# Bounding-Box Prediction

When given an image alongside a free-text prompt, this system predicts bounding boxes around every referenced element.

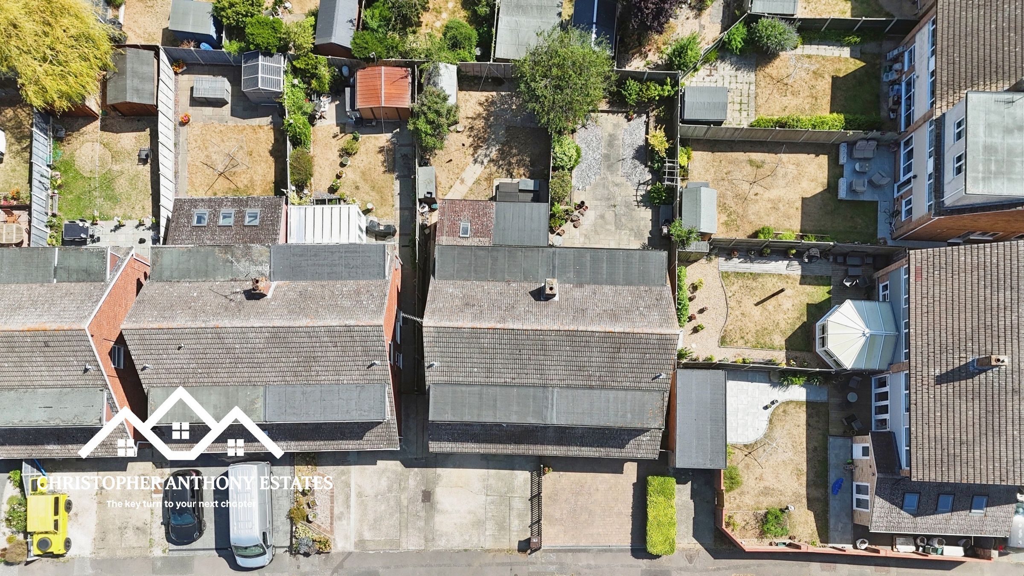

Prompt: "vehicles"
[163,470,207,547]
[27,480,76,559]
[229,463,277,570]
[1000,483,1024,557]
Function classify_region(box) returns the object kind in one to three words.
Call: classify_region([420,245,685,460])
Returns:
house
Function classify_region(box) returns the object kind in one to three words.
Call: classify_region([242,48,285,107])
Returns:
building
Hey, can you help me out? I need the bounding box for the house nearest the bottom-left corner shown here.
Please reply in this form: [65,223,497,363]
[0,241,153,453]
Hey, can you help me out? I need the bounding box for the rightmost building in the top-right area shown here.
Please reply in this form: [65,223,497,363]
[890,0,1024,240]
